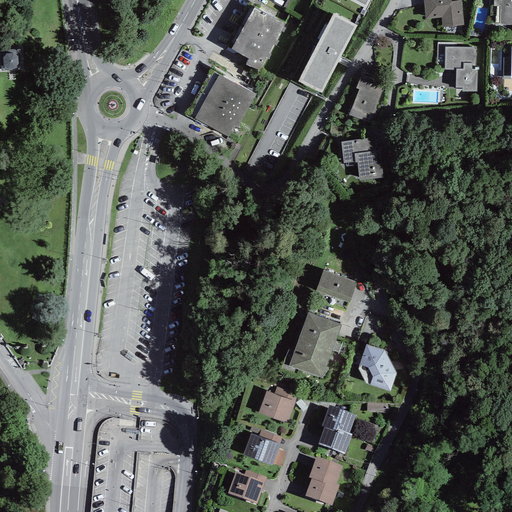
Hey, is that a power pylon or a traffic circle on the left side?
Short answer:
traffic circle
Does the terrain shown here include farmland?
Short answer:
No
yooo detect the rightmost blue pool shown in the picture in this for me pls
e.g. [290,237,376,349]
[474,6,488,30]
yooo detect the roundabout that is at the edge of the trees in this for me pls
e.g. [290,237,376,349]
[83,76,142,134]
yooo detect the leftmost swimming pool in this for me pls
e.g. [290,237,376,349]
[412,89,440,104]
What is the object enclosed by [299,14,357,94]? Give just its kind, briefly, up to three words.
building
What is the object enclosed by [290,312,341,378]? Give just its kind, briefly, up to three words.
building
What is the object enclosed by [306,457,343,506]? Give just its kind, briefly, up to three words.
house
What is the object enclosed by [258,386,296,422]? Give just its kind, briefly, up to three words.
house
